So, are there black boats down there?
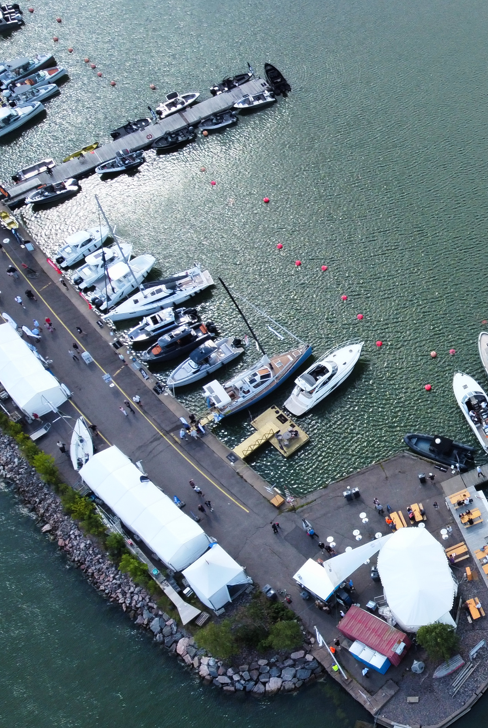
Yes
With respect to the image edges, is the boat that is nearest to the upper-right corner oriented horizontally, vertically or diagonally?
diagonally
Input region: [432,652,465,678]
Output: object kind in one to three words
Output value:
boat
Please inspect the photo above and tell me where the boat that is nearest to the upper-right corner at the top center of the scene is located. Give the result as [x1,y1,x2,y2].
[265,64,291,99]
